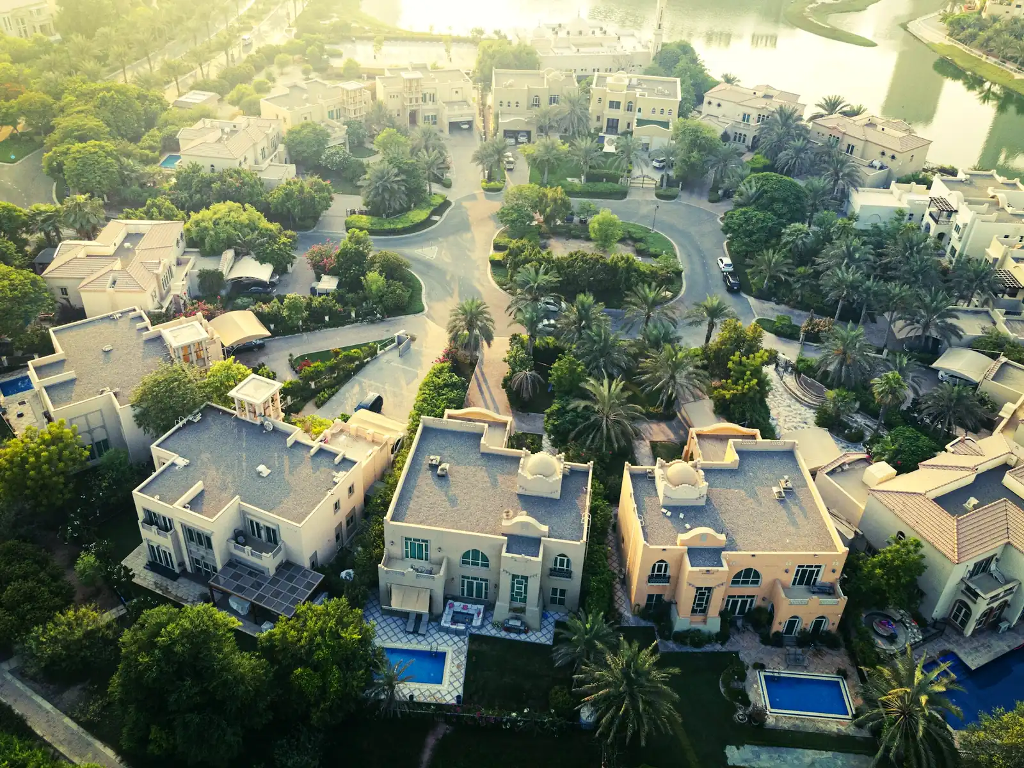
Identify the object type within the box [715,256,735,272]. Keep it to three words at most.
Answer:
car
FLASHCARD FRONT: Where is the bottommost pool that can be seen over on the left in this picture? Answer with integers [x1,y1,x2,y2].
[355,636,456,693]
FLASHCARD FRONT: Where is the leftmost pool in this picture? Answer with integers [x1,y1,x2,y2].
[0,372,33,399]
